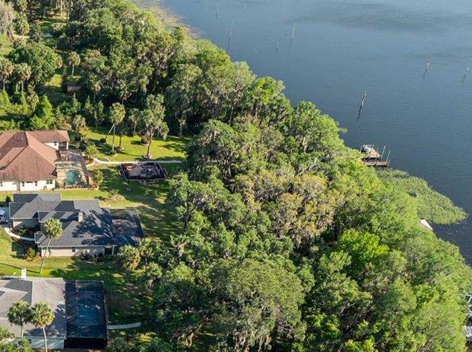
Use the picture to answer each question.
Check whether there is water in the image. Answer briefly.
Yes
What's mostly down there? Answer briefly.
trees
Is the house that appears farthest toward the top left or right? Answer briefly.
left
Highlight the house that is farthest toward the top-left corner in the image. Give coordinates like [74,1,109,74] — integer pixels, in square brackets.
[0,128,90,189]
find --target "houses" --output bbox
[9,193,142,254]
[0,128,90,189]
[0,265,107,349]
